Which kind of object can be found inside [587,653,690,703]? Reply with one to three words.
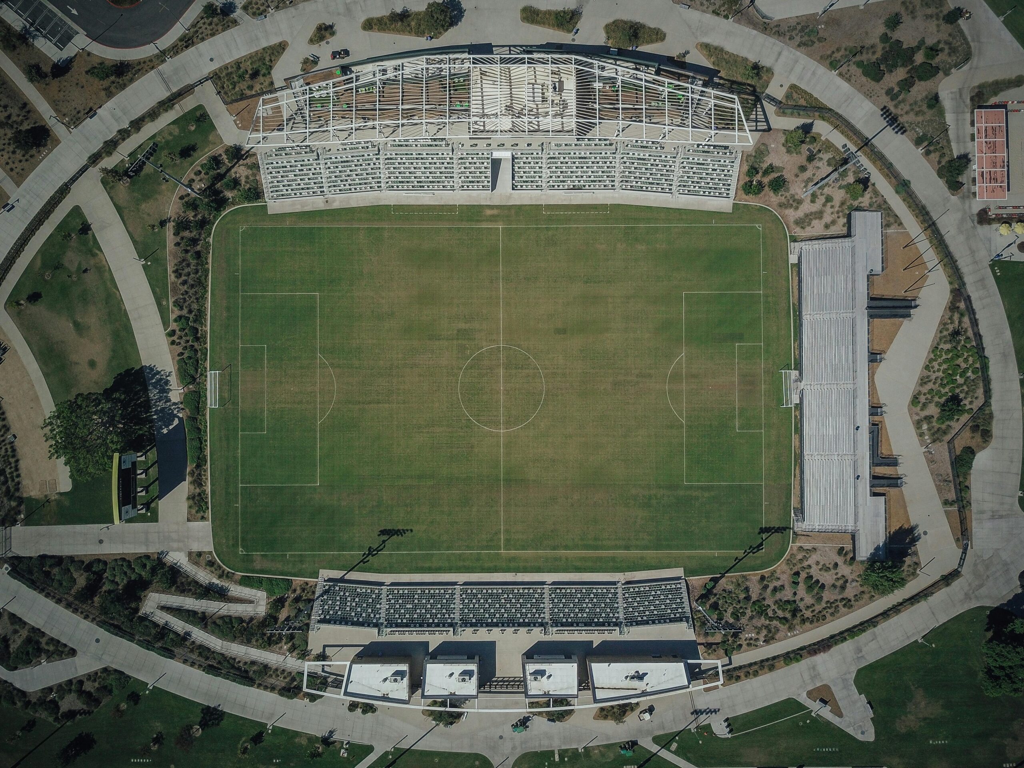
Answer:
building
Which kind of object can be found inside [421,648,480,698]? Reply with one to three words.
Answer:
building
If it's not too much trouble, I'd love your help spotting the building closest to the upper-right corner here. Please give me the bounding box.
[966,108,1008,201]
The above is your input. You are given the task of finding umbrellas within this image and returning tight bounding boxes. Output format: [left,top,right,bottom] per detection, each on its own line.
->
[997,224,1011,236]
[1013,223,1024,235]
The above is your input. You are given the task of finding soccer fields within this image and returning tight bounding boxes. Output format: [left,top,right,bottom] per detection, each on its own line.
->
[208,202,792,579]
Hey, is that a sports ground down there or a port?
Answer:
sports ground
